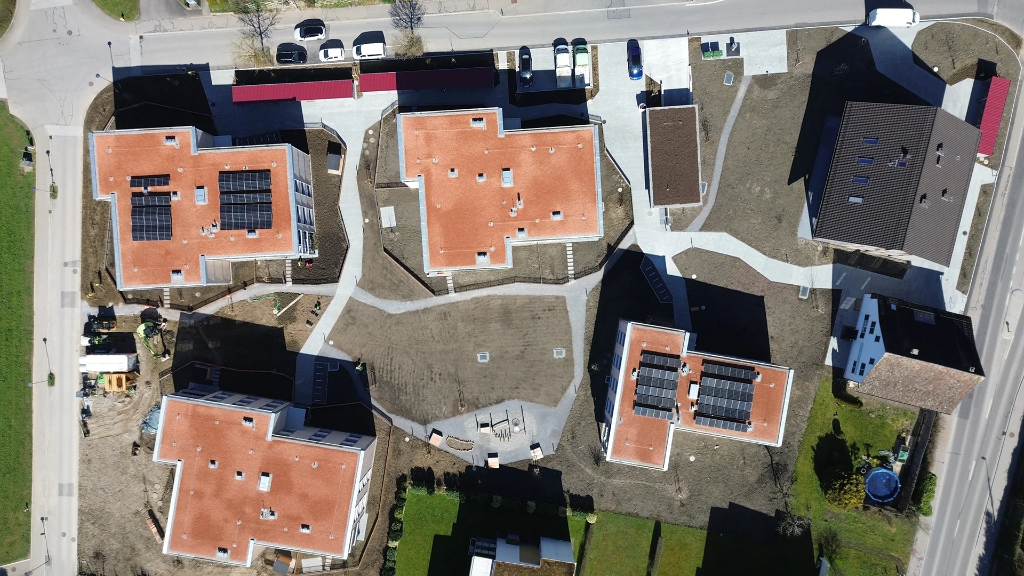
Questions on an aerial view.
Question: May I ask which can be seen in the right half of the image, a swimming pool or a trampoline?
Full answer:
It is a swimming pool that can be seen in the right half of the image.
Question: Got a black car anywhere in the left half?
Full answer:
Yes, looking in the left half, one can make out a black car.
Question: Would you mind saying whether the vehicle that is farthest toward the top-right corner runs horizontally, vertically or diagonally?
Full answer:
The vehicle that is farthest toward the top-right corner is laid out horizontally.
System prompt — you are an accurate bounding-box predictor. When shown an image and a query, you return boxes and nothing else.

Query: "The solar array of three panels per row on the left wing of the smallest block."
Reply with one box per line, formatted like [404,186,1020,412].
[633,354,681,421]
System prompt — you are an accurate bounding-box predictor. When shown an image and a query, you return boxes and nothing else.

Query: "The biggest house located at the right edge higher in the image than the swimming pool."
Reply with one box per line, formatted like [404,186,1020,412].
[794,100,983,268]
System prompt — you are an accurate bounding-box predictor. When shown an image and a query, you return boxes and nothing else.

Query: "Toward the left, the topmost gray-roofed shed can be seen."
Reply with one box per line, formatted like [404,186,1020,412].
[326,154,344,175]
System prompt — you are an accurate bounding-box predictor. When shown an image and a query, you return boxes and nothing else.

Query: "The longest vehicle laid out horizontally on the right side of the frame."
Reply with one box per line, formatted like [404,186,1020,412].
[865,11,912,31]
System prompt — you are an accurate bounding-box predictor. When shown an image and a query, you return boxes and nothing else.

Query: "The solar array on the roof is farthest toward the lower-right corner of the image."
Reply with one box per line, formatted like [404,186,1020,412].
[694,363,757,432]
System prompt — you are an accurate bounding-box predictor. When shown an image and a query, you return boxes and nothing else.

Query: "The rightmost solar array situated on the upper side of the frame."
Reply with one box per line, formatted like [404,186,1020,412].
[218,171,272,230]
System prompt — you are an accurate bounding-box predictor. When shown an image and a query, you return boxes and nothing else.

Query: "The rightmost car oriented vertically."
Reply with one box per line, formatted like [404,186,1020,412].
[628,48,644,81]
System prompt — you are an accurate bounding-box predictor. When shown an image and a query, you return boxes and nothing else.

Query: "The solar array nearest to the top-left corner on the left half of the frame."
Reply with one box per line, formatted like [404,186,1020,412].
[130,176,172,241]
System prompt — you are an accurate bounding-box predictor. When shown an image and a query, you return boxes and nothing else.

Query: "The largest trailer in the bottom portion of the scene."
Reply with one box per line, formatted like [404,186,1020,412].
[83,353,136,372]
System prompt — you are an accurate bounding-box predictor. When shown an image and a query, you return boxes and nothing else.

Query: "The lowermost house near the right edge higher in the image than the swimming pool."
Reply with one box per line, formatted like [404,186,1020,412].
[844,295,986,415]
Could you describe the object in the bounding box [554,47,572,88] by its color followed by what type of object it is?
white vehicle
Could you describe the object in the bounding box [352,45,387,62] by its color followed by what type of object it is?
white vehicle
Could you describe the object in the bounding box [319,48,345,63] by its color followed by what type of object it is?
white car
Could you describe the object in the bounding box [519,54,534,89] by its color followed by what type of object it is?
black car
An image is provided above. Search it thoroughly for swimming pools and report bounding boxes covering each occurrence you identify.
[870,469,904,504]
